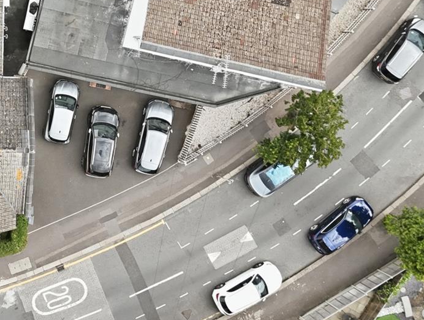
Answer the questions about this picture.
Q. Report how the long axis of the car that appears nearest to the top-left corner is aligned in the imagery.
from top to bottom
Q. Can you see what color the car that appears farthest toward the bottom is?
white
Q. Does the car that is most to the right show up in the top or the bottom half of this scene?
top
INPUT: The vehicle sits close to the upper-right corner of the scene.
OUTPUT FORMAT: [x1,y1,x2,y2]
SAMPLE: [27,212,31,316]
[371,18,424,85]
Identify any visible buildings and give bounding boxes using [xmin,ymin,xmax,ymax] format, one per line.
[24,0,331,108]
[0,0,37,230]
